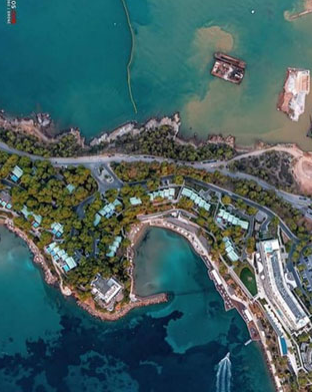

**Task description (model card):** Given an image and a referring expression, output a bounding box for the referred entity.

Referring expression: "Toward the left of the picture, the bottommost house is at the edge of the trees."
[90,273,124,311]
